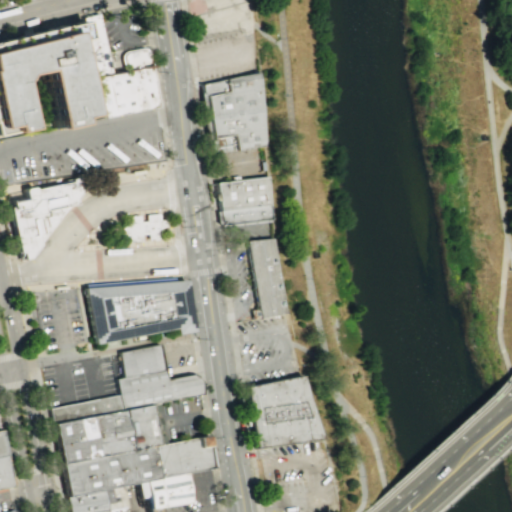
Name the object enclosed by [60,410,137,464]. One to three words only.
building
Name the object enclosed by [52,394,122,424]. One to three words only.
shed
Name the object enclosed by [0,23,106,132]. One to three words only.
building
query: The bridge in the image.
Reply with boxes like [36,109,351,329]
[368,380,512,512]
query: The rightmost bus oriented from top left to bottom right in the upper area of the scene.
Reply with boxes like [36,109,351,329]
[137,138,161,158]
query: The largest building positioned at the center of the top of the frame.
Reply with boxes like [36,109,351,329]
[204,74,268,152]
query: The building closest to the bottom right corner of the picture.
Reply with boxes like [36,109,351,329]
[253,378,326,448]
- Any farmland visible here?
No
